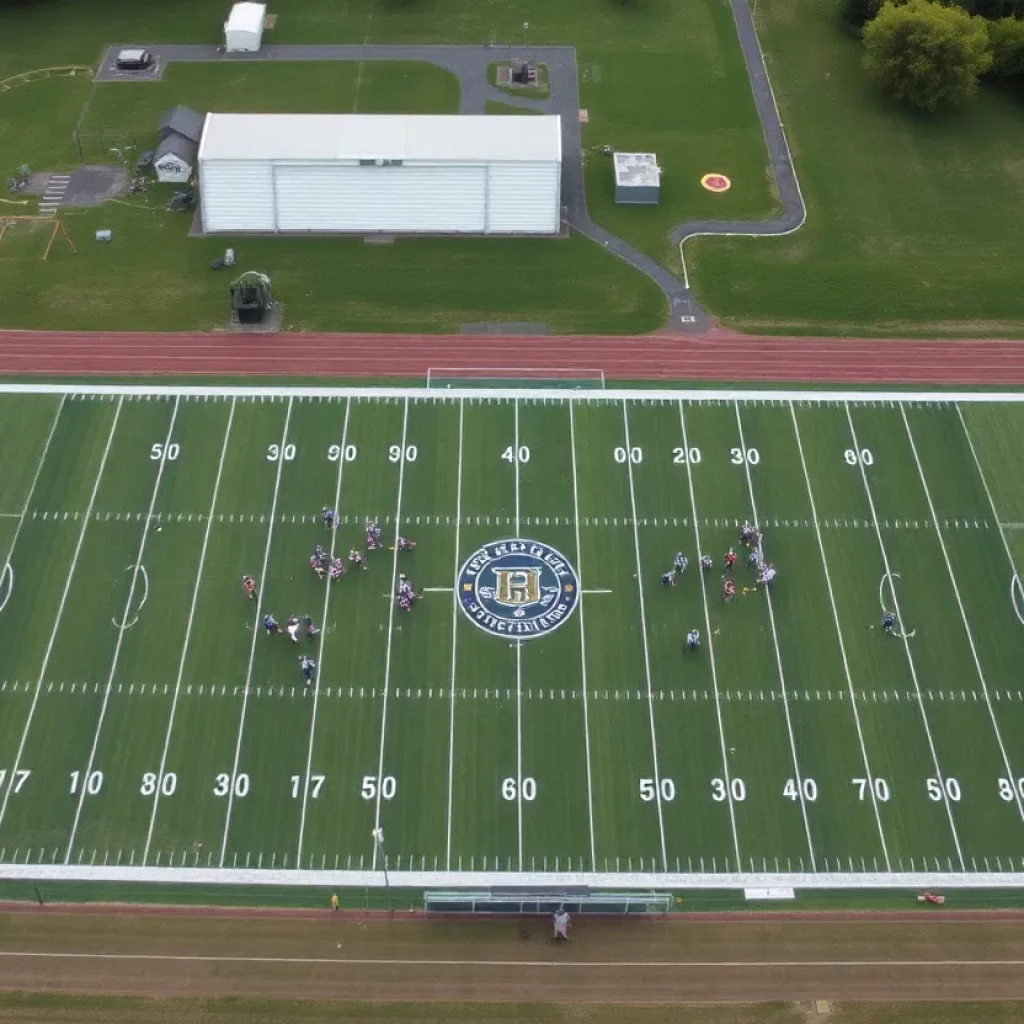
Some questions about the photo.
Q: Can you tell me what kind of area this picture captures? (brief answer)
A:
sports ground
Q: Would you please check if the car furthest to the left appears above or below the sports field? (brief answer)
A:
above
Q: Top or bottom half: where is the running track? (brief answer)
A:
top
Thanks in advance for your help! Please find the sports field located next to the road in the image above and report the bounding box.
[0,393,1024,873]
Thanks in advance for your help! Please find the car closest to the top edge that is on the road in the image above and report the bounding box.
[117,50,155,71]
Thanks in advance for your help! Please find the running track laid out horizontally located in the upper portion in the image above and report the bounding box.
[0,330,1024,383]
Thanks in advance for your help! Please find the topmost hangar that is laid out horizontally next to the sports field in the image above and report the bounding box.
[198,112,566,236]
